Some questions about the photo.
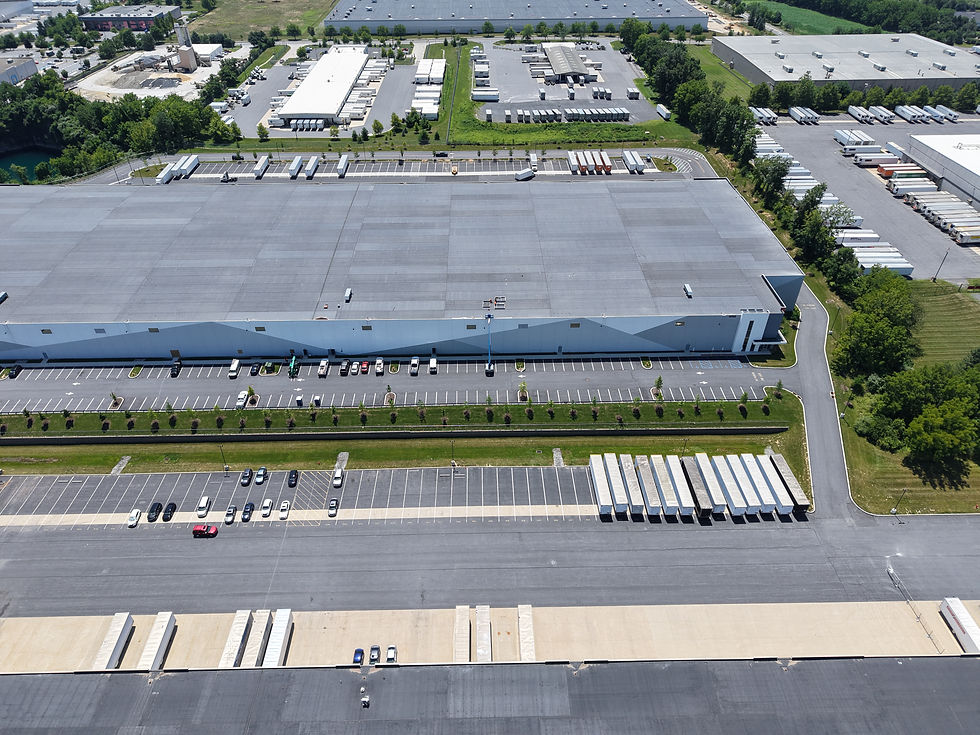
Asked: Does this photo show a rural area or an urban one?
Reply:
urban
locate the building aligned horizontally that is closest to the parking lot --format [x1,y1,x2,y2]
[0,180,805,363]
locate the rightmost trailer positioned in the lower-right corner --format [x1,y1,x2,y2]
[940,597,980,653]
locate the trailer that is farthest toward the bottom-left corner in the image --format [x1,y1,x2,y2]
[90,612,134,670]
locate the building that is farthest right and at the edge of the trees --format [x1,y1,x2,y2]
[902,133,980,204]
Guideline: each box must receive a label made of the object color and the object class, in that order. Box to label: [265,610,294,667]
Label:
white trailer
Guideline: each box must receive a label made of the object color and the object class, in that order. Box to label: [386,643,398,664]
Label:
white vehicle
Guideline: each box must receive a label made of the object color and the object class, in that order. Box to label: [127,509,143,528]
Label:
white car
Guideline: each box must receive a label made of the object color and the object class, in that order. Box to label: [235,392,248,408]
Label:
white vehicle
